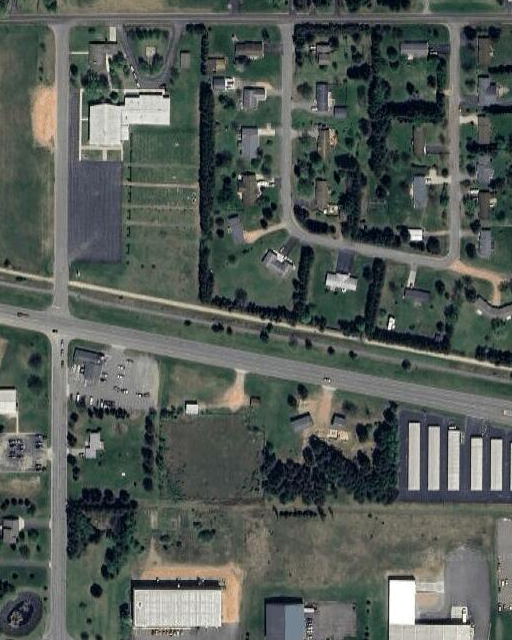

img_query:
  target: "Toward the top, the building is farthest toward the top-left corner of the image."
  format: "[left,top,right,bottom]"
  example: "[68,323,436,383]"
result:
[89,42,117,71]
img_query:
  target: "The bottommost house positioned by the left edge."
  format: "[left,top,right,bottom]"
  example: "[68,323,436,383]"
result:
[0,518,19,542]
